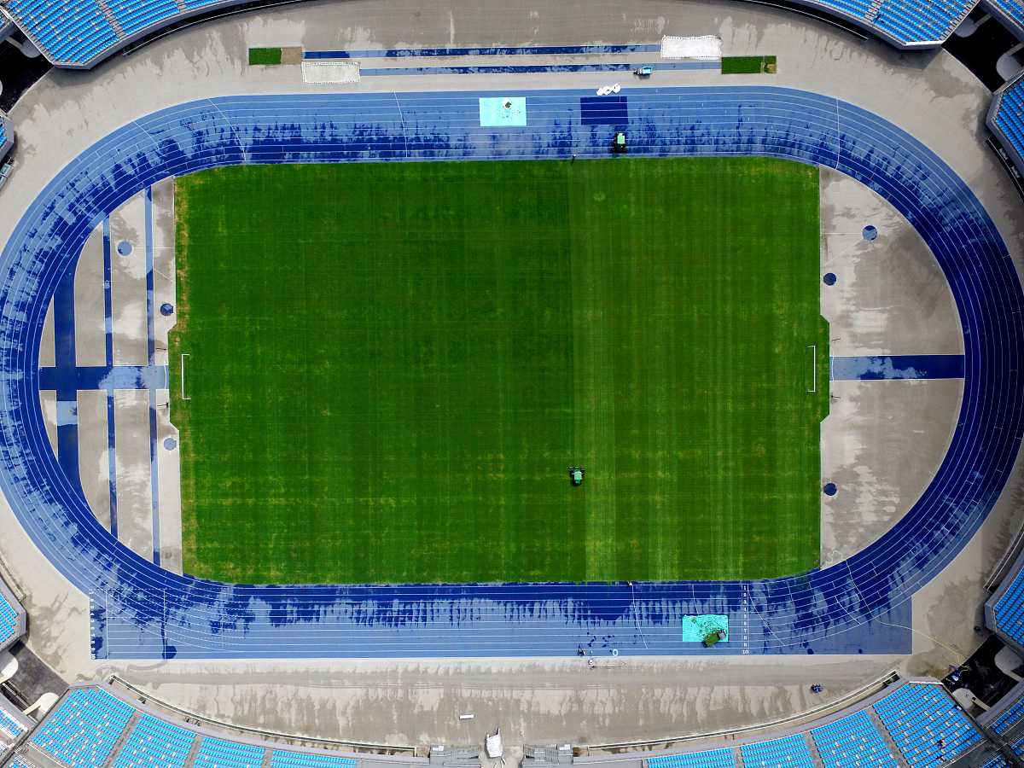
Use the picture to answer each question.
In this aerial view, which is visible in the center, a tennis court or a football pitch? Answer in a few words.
football pitch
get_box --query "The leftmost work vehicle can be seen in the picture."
[569,467,586,486]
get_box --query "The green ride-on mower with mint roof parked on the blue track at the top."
[611,132,629,154]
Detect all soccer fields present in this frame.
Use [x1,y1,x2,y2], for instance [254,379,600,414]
[168,156,829,584]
